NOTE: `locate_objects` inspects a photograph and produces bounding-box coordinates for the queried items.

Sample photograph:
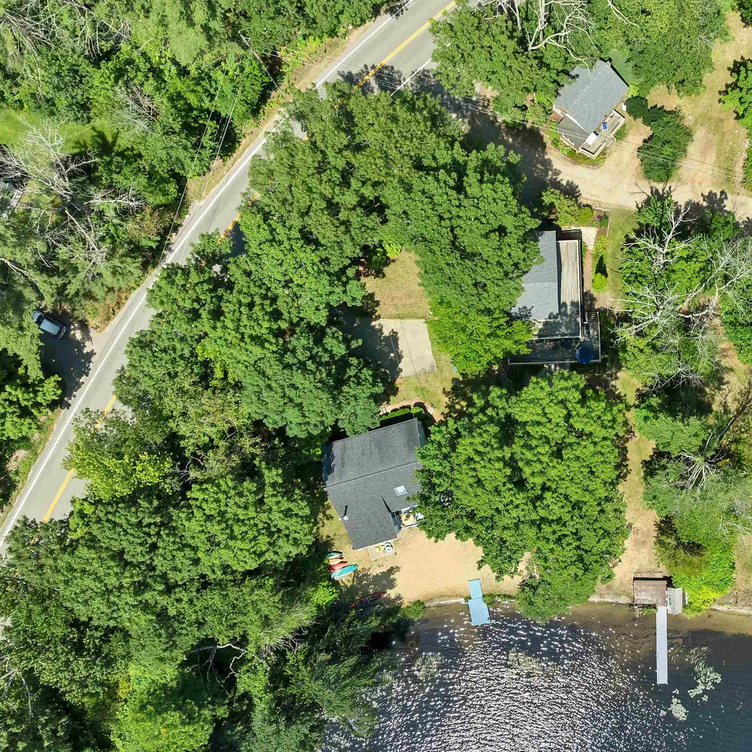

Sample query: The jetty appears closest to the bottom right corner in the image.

[655,607,668,684]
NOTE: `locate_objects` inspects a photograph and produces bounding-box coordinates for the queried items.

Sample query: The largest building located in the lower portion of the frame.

[323,416,434,551]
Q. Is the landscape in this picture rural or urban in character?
rural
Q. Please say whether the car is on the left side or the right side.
left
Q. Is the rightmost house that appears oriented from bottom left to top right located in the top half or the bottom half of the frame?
top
